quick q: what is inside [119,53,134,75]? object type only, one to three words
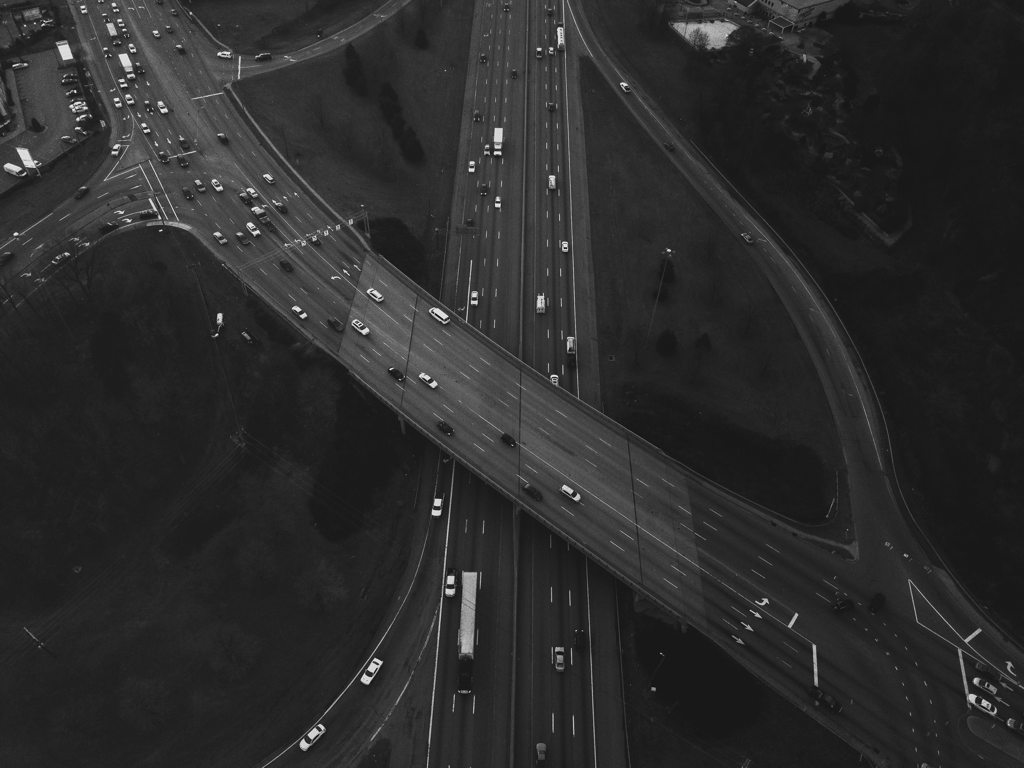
vehicle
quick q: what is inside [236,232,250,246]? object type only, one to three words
car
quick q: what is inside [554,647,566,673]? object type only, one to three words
vehicle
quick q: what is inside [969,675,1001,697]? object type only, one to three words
car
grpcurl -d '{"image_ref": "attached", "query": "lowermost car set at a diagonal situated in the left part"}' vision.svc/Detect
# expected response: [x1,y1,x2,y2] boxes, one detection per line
[300,724,326,752]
